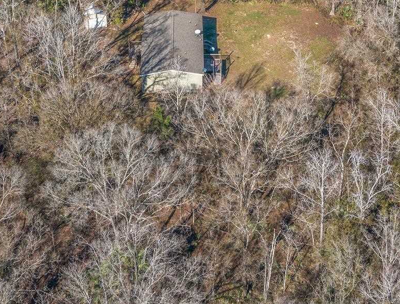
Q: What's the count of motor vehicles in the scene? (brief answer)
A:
zero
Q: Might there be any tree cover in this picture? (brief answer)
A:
Yes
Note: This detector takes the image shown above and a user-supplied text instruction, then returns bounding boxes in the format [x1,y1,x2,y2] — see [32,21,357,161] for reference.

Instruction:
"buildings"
[139,10,203,90]
[87,1,109,29]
